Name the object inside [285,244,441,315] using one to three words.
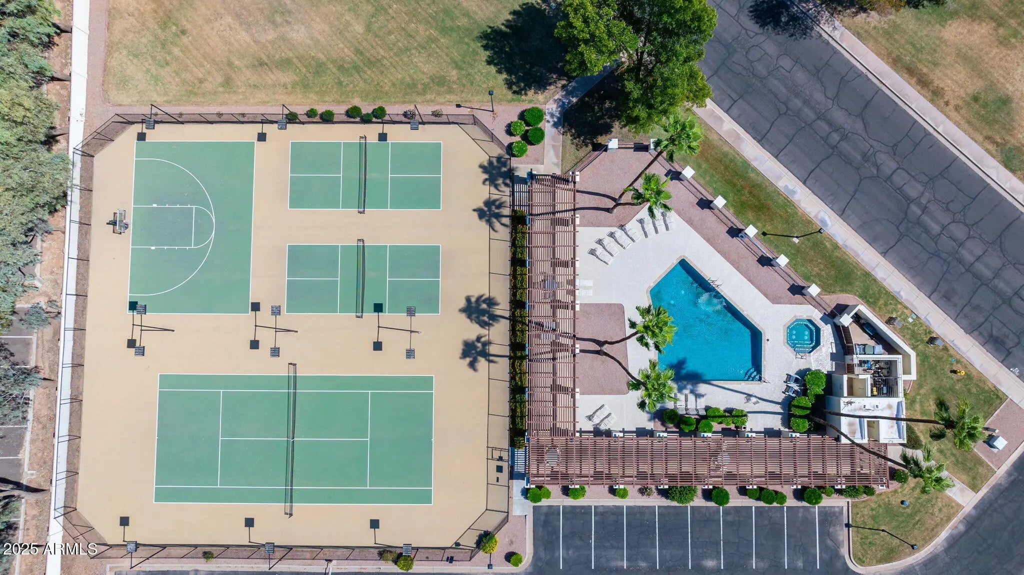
sports court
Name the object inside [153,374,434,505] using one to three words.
tennis court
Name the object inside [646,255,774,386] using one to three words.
swimming pool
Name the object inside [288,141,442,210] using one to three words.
sports court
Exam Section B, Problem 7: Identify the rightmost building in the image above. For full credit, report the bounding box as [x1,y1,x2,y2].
[826,355,906,443]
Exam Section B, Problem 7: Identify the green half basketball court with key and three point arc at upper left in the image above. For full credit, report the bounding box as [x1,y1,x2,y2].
[128,140,255,315]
